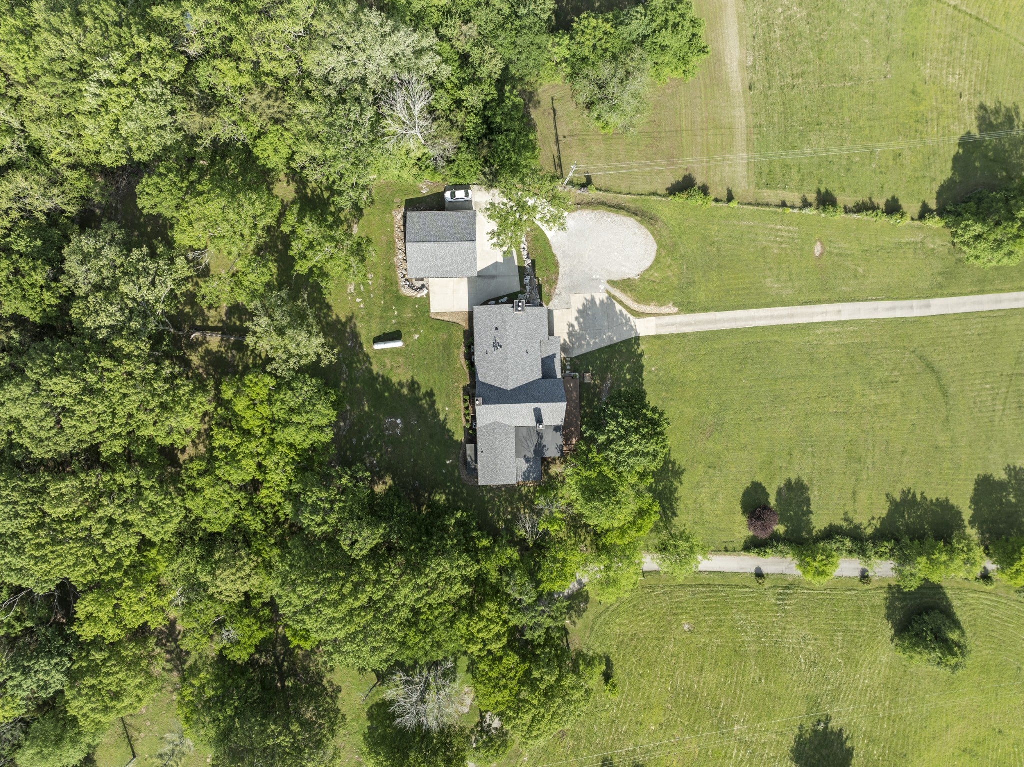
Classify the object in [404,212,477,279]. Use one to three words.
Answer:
building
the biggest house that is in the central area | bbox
[467,300,567,485]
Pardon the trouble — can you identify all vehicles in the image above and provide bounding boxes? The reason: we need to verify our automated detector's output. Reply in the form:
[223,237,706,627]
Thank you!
[445,189,473,203]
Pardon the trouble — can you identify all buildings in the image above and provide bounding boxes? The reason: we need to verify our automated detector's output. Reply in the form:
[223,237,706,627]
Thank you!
[467,300,567,485]
[404,212,477,279]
